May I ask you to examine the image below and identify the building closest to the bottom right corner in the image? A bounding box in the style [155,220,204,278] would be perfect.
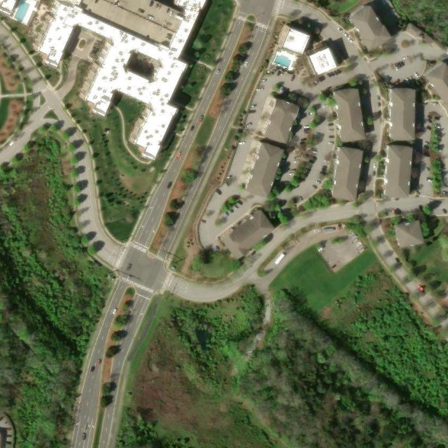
[393,219,424,248]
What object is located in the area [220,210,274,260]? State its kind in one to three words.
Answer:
building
